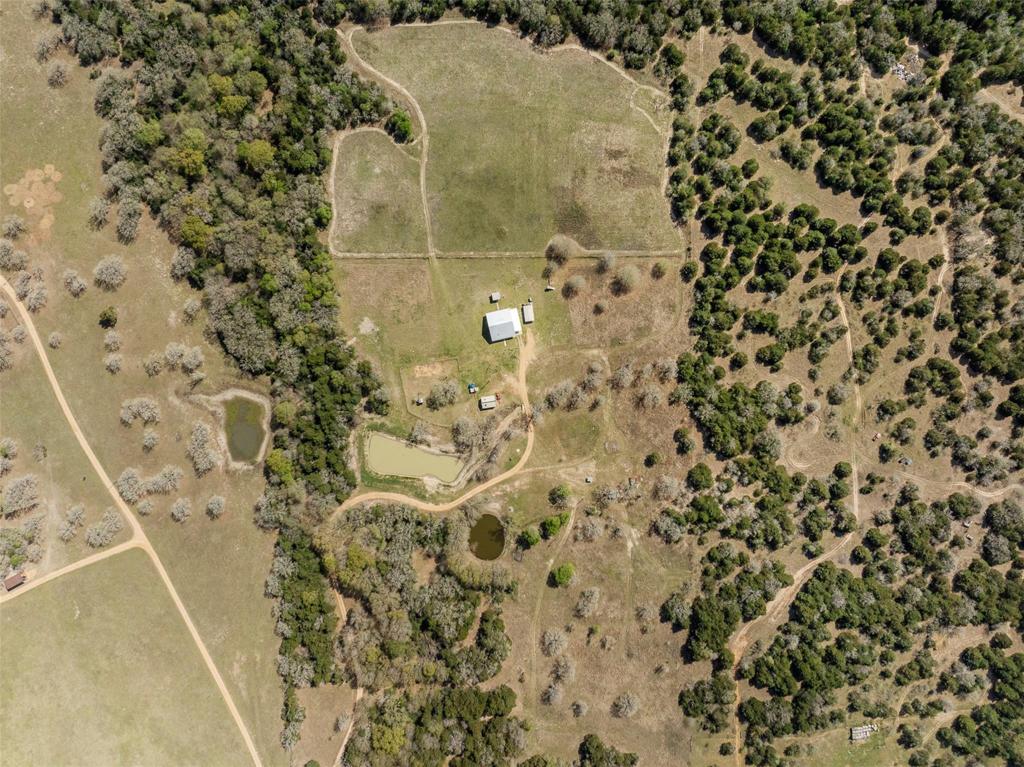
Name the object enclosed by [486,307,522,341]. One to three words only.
house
